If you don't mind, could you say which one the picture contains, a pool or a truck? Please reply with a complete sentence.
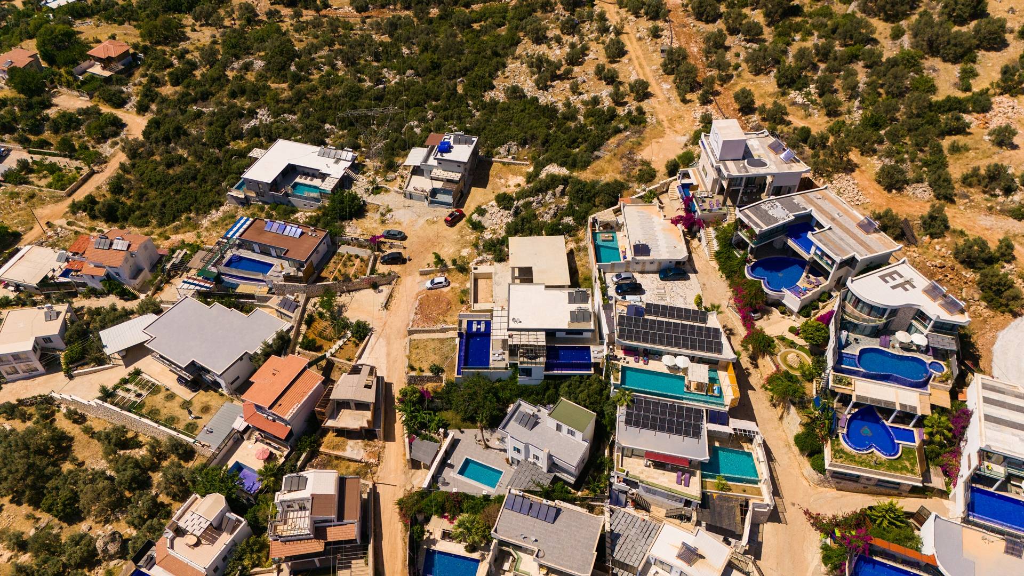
Looking from above, you can make out a pool.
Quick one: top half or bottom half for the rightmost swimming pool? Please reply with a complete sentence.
The bottom half of the photo is where the rightmost swimming pool is.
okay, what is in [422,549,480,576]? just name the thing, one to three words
swimming pool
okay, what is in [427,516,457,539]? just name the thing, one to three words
gazebo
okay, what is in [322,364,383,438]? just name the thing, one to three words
house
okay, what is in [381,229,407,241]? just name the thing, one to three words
vehicle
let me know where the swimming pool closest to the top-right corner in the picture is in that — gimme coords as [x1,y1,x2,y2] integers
[789,224,819,254]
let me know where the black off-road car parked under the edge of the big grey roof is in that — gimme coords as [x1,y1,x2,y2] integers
[175,378,203,395]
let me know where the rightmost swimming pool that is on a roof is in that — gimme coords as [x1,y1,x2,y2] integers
[967,485,1024,529]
